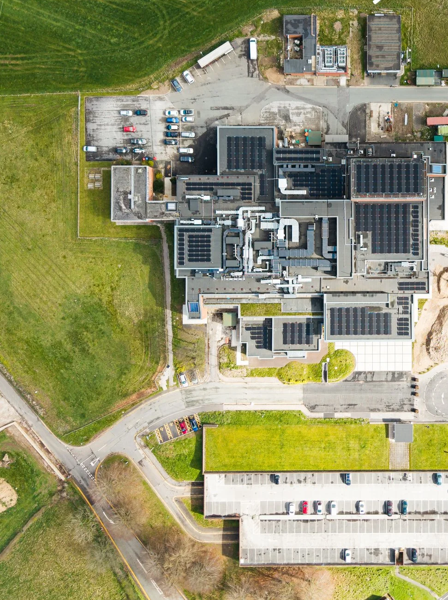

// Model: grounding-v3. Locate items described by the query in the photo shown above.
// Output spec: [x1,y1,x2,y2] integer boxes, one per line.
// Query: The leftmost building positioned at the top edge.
[284,15,317,76]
